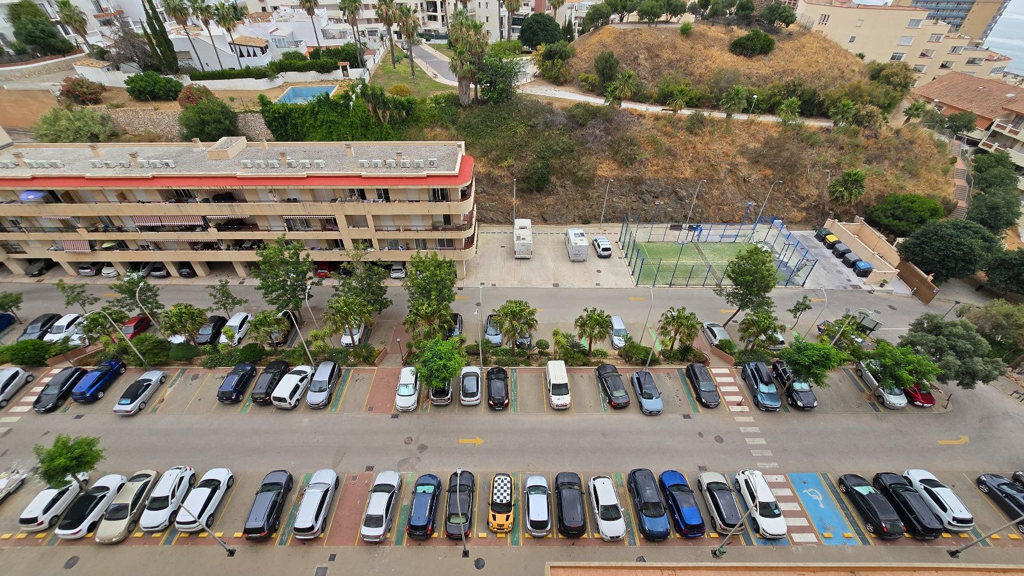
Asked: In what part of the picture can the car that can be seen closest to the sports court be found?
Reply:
center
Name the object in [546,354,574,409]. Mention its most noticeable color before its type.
white car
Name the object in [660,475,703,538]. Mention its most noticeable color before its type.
blue car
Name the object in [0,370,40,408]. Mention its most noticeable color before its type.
gray car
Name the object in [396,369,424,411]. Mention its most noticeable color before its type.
white car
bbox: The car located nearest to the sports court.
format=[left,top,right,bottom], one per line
[592,235,613,258]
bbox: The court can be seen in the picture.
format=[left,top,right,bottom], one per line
[614,196,823,286]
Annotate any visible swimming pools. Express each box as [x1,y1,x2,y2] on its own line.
[274,85,336,103]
